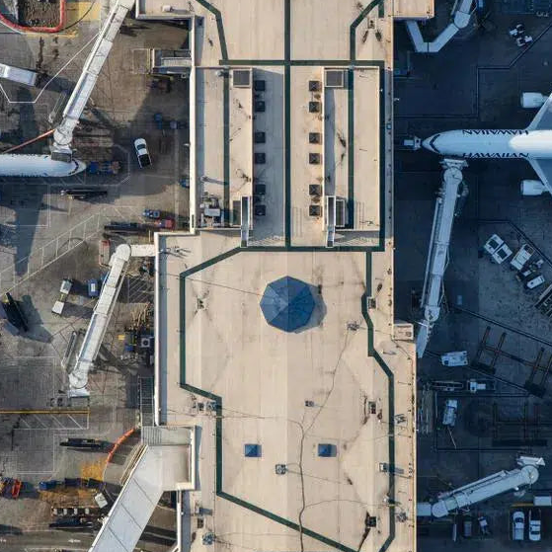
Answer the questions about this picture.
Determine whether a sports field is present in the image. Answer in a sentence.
No, I find no sports field anywhere in the image.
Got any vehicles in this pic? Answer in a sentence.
Yes, there's a vehicle here.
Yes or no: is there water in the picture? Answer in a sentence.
No, water can't be seen anywhere here.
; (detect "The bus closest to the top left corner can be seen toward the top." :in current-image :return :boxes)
[0,62,41,87]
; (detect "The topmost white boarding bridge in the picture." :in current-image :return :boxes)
[51,0,130,163]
